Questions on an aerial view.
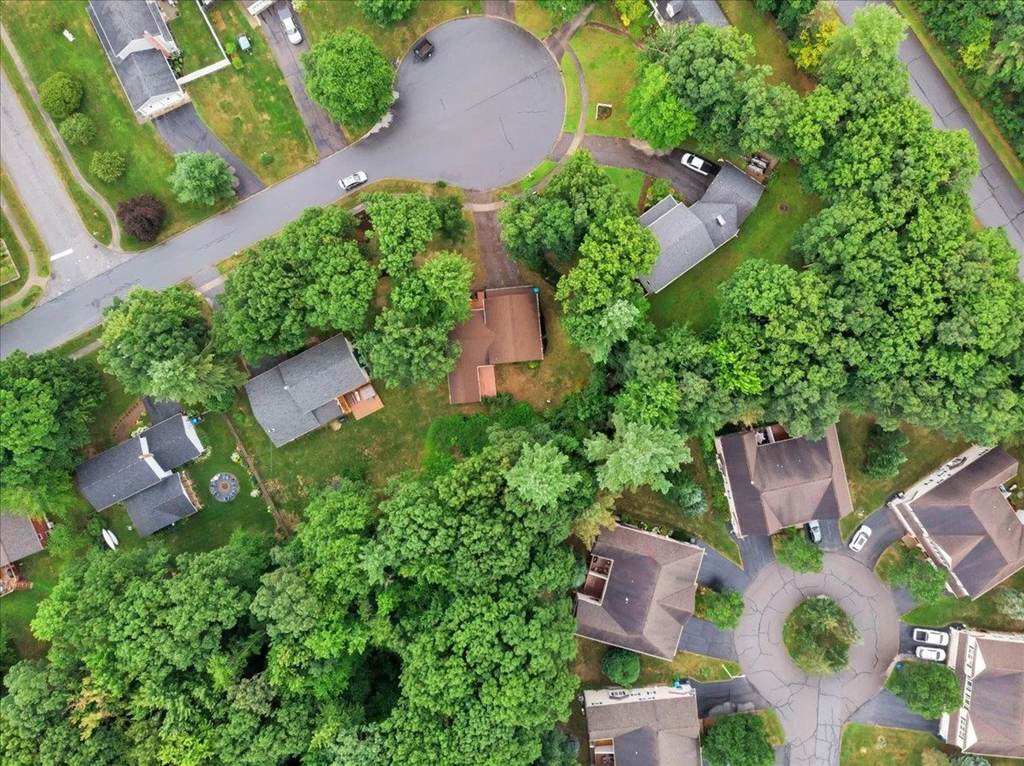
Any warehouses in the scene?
No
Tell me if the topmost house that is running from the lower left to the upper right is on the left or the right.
right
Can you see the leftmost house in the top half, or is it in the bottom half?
bottom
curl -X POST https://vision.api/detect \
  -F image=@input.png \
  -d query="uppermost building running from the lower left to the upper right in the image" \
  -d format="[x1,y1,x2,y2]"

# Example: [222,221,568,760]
[625,152,765,290]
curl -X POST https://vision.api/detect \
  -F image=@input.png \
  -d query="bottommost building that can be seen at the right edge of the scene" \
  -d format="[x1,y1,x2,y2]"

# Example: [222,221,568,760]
[938,627,1024,761]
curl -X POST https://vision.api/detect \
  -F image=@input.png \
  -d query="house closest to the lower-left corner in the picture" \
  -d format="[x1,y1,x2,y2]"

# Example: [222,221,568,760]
[0,505,54,595]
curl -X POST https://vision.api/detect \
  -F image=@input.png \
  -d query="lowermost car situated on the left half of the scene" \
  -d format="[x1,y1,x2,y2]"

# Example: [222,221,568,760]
[337,170,367,188]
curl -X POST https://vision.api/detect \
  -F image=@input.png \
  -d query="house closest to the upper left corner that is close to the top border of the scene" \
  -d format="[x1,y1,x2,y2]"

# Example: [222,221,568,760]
[81,0,188,116]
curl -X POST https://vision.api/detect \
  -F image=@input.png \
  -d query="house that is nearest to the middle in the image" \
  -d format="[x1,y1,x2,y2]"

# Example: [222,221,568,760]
[445,284,544,405]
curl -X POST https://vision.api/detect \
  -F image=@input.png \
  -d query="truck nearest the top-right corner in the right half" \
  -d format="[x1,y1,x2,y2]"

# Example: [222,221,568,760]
[680,152,718,177]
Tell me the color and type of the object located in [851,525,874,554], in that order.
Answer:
white car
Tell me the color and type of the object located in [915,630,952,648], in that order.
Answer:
white vehicle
